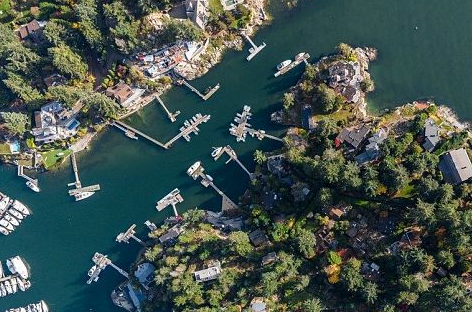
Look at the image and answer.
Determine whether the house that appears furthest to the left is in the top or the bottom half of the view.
top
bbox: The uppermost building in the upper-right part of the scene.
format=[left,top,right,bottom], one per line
[329,59,362,104]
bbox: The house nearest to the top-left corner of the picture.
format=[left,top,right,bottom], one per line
[17,16,45,42]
